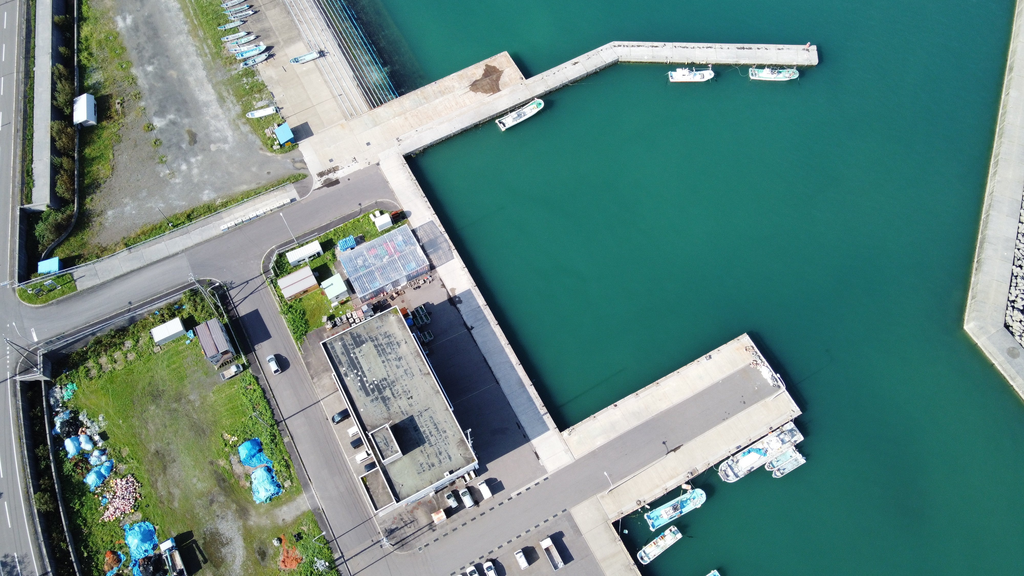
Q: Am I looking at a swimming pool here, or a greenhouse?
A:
greenhouse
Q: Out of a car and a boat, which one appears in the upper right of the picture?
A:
boat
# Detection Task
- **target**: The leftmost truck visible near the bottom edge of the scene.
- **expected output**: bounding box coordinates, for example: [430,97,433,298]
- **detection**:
[158,540,186,576]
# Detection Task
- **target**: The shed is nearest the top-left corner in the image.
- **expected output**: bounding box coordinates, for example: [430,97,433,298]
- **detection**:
[72,94,102,133]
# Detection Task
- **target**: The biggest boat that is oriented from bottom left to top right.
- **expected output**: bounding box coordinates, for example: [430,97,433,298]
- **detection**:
[717,421,803,478]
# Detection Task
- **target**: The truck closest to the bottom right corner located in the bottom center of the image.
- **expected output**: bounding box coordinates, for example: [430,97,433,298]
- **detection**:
[536,533,567,574]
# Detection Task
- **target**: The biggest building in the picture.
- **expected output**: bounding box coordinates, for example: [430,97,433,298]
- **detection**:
[321,307,478,515]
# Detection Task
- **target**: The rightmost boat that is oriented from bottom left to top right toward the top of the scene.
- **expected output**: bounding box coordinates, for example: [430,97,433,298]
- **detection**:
[497,101,543,133]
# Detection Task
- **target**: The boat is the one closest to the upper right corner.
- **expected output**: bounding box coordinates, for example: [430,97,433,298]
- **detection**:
[747,63,800,82]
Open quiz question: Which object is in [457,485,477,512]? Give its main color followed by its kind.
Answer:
white car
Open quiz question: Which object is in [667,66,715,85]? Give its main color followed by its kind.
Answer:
white boat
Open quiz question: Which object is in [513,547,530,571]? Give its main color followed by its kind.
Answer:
white vehicle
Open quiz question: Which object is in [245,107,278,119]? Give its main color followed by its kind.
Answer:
white boat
